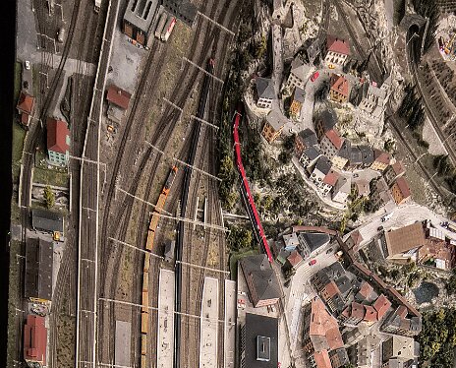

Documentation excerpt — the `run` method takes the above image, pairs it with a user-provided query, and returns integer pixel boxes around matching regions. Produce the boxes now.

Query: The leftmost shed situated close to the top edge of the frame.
[122,0,164,40]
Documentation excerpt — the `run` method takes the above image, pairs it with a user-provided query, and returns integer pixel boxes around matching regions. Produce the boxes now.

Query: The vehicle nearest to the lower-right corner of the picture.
[439,217,456,231]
